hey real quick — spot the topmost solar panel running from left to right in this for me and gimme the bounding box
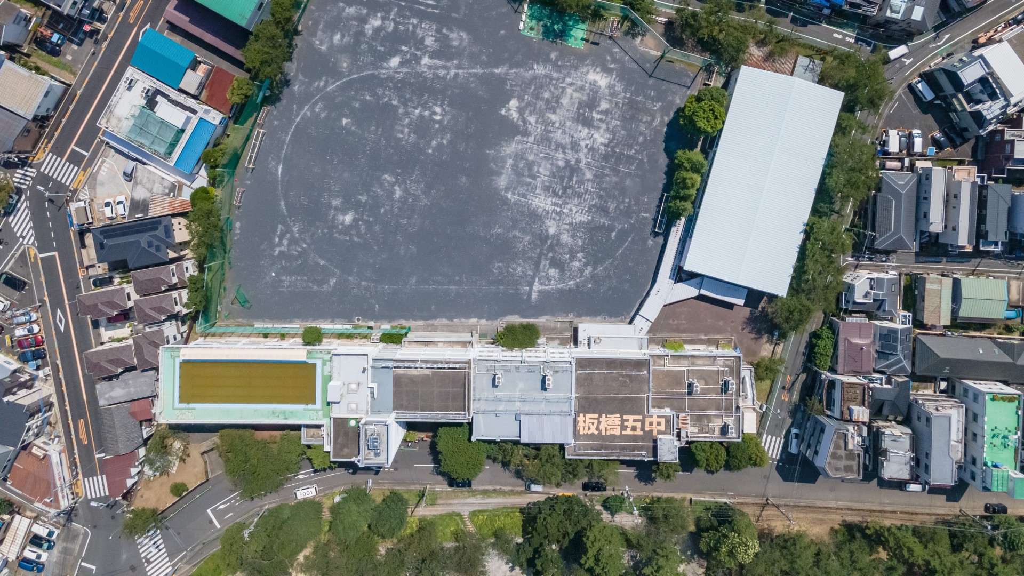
[100,220,171,251]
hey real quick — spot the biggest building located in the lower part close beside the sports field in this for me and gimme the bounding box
[160,320,757,467]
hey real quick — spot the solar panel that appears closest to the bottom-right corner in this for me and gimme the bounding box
[878,330,911,361]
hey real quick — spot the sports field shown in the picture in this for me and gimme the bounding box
[221,0,716,321]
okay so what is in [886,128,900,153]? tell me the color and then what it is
white vehicle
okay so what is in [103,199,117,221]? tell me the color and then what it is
white car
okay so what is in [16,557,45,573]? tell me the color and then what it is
blue car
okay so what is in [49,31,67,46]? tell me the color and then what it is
blue vehicle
